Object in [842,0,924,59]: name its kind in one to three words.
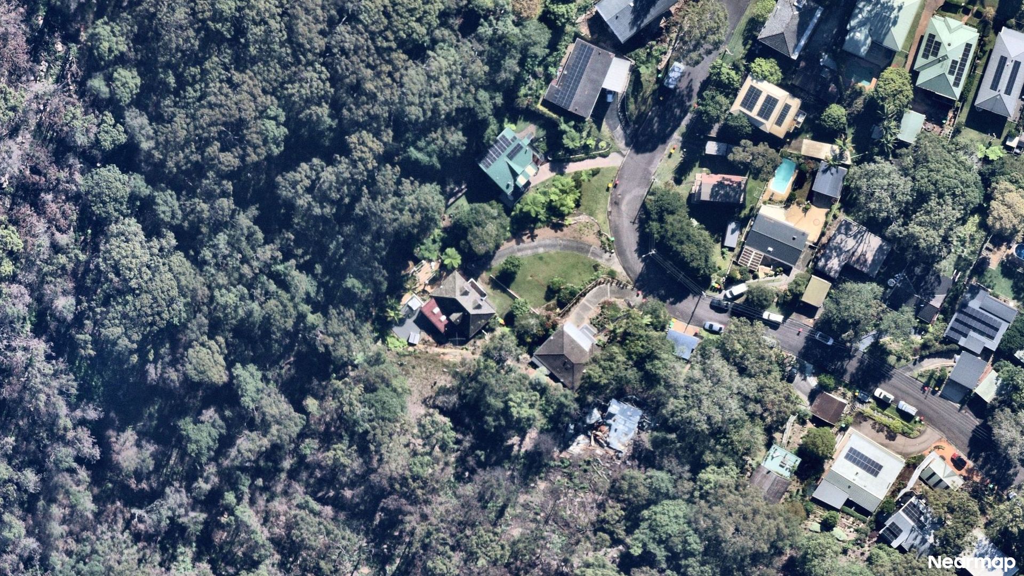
house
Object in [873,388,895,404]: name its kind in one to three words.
vehicle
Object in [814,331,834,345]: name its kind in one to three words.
car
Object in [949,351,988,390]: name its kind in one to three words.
building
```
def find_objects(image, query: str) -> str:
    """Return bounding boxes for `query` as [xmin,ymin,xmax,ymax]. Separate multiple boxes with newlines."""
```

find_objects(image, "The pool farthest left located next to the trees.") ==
[770,155,798,195]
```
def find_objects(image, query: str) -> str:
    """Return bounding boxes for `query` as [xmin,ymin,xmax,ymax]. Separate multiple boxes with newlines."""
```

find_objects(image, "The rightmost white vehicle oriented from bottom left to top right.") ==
[726,283,748,299]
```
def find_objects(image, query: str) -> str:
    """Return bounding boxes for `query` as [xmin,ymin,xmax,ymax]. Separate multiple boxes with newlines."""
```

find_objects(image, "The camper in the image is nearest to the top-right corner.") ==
[665,60,683,88]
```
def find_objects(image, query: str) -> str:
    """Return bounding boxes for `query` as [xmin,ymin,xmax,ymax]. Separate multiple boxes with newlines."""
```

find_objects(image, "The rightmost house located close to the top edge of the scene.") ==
[975,28,1024,118]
